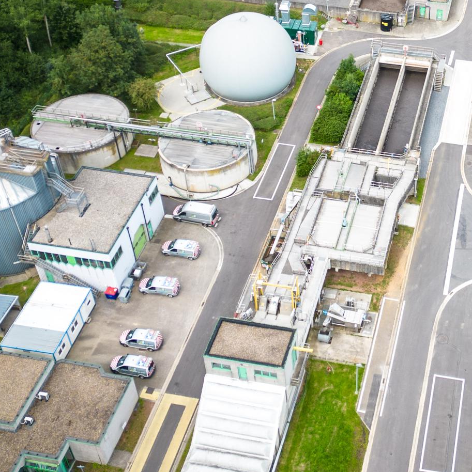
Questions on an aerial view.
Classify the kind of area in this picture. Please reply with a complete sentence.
What you see here is an industrial area.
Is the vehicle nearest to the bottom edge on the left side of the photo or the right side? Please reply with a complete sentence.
It is on the left.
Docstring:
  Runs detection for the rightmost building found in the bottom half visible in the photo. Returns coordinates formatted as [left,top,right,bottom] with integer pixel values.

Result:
[204,317,316,392]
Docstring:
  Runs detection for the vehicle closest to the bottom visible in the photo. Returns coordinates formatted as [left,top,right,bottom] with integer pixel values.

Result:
[108,351,156,378]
